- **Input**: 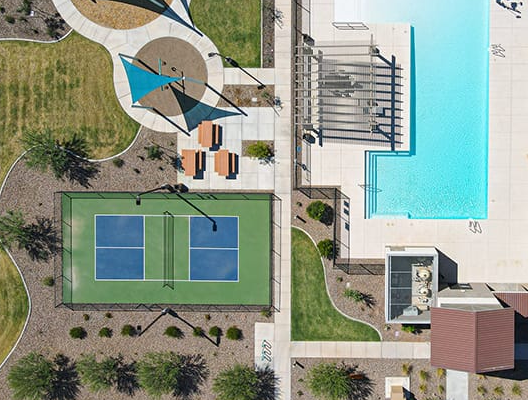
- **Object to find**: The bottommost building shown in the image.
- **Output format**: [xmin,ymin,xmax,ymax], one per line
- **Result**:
[425,278,528,373]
